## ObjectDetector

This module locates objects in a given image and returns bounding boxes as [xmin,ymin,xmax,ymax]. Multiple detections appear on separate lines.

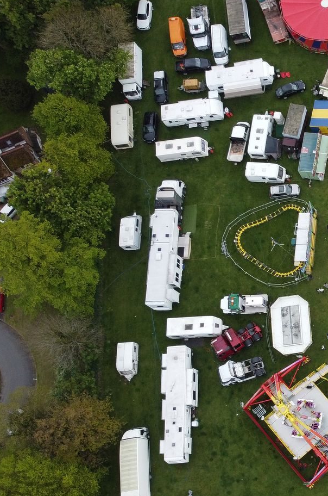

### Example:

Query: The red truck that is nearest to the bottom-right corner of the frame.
[214,324,264,359]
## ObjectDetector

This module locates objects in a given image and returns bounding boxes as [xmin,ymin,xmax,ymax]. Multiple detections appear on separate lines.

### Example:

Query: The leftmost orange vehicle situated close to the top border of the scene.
[168,17,189,58]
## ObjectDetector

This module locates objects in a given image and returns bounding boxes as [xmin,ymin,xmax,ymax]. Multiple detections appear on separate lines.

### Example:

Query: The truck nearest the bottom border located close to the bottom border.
[121,424,152,496]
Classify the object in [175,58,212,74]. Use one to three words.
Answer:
vehicle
